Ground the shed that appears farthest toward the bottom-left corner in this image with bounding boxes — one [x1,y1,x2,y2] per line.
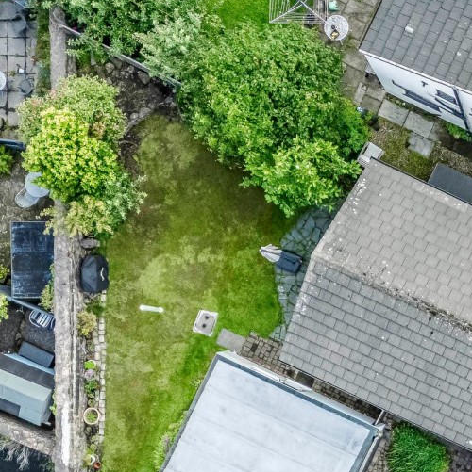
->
[0,352,56,426]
